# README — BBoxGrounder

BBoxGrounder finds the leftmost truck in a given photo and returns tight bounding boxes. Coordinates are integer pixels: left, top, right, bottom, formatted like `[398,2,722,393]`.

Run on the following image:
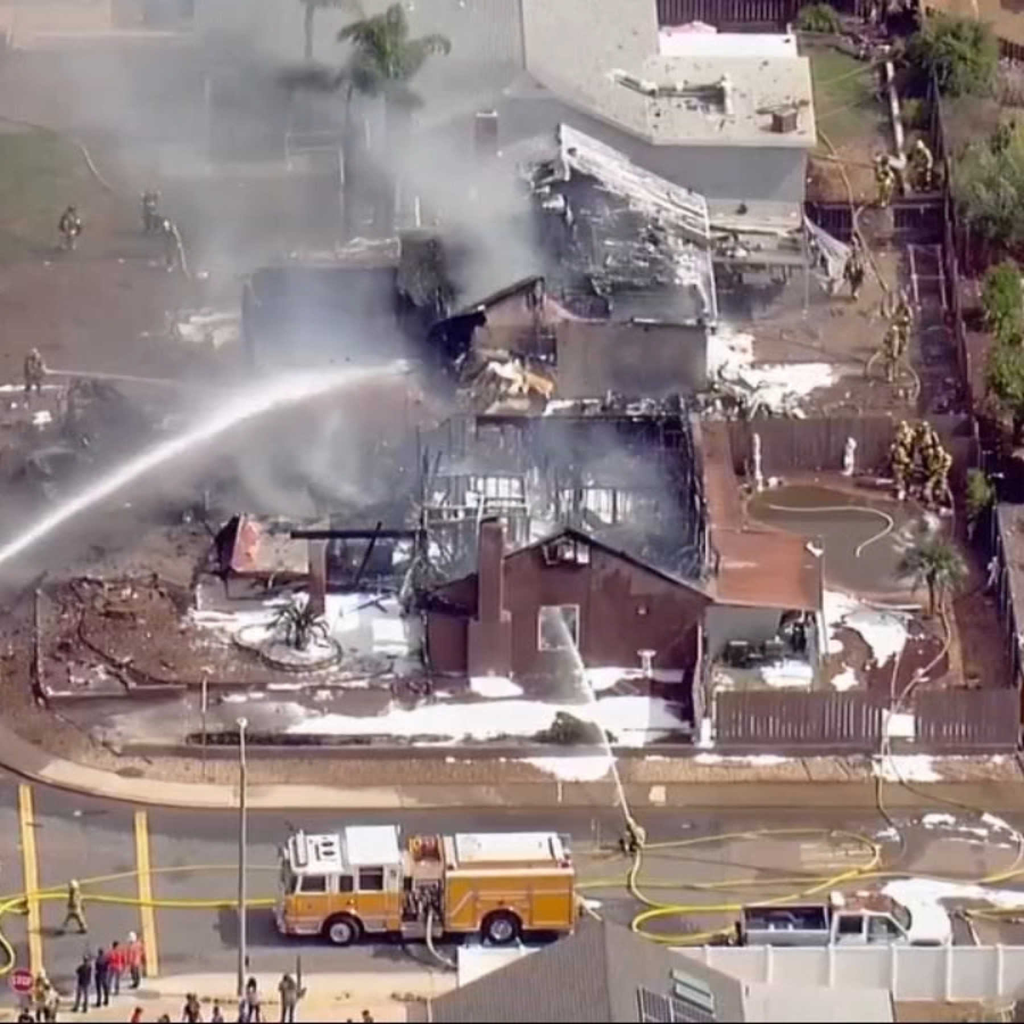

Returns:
[267,820,583,942]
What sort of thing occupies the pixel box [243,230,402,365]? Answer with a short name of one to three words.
building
